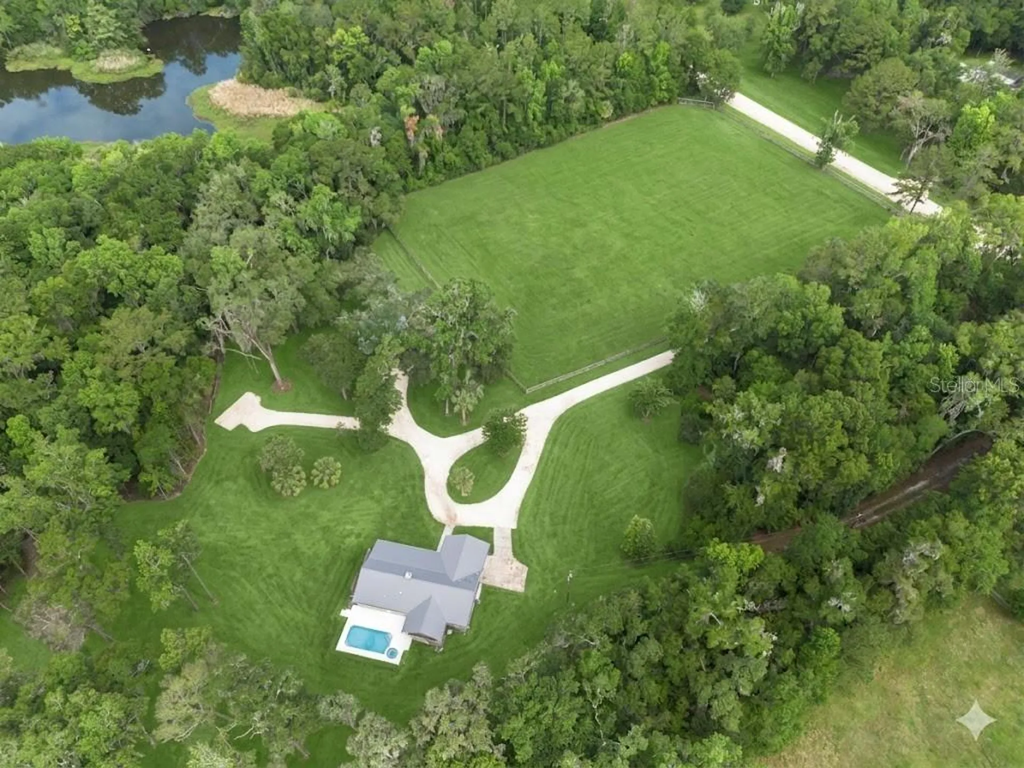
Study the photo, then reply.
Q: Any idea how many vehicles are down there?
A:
none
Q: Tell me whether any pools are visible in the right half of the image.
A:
No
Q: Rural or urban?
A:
rural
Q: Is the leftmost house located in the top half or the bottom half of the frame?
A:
bottom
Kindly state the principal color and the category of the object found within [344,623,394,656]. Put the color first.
blue swimming pool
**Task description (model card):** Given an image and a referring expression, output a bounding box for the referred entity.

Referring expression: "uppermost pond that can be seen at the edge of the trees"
[0,6,299,147]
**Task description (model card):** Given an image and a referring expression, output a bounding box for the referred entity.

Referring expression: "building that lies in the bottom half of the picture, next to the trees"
[352,535,490,647]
